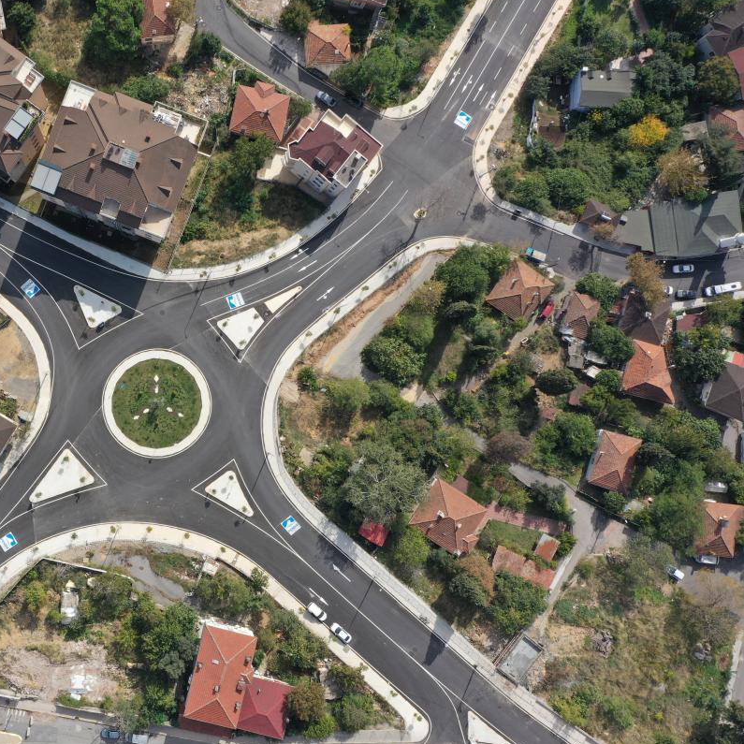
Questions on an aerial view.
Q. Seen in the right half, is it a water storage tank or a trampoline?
water storage tank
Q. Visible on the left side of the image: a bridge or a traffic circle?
traffic circle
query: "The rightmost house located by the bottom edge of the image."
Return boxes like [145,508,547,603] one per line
[236,664,295,740]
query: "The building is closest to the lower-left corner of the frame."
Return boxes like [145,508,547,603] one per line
[63,595,78,619]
